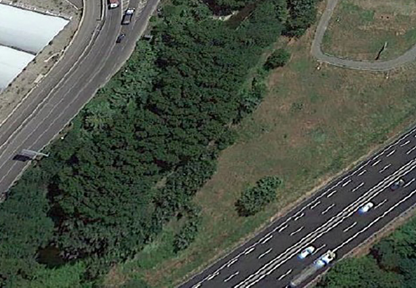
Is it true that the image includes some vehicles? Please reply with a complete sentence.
Yes, looking at the shot, I can spot a vehicle.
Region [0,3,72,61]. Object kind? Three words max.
hangar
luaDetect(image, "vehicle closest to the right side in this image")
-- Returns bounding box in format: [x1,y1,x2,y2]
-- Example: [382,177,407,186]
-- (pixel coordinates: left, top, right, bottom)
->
[391,179,406,191]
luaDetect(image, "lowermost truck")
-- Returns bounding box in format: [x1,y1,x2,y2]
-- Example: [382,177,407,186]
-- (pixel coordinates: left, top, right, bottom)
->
[287,265,318,288]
